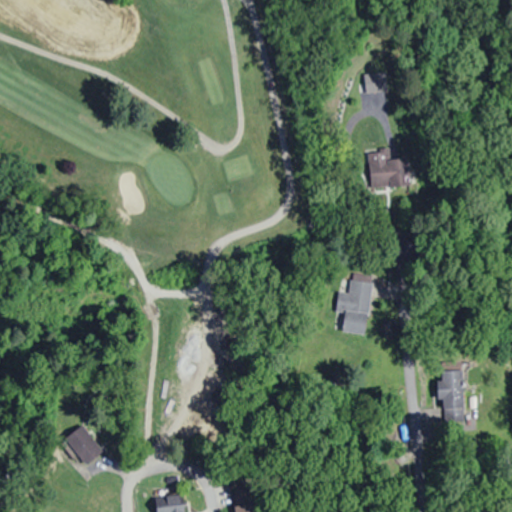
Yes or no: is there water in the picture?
No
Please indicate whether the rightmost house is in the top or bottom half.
bottom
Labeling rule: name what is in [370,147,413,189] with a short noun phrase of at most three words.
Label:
house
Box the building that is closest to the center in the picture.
[338,272,374,336]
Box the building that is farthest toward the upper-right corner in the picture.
[364,73,384,94]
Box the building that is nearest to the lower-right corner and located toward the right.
[438,362,469,422]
